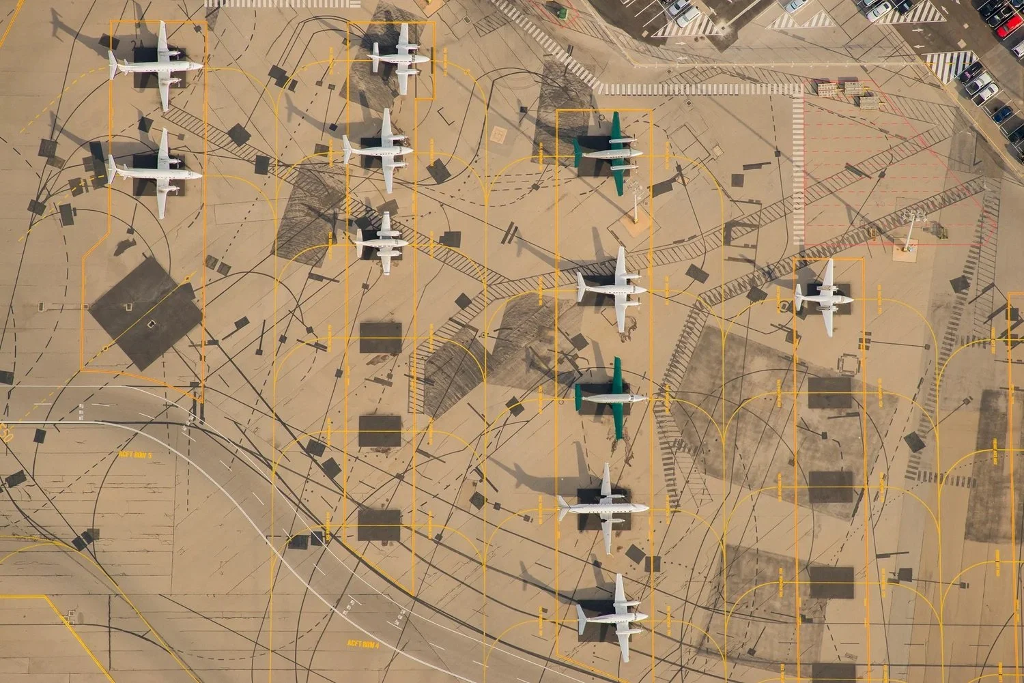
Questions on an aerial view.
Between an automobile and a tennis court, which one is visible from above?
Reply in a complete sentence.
This aerial view contains an automobile.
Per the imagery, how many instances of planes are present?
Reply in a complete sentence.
There are 11 planes in the image.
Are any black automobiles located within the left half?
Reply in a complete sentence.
No, no black automobile is visible within the left half.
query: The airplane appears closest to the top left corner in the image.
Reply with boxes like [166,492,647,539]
[106,22,203,110]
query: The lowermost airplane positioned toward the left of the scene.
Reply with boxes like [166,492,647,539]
[351,212,408,273]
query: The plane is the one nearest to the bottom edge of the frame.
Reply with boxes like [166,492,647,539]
[576,575,647,660]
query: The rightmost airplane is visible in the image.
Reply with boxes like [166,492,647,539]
[794,260,853,336]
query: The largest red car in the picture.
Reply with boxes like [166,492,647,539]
[1000,15,1023,35]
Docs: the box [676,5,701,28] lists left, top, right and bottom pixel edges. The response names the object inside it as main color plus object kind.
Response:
white vehicle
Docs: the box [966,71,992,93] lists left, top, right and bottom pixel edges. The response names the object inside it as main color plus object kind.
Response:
white vehicle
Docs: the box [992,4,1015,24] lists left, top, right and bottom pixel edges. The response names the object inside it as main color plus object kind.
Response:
black car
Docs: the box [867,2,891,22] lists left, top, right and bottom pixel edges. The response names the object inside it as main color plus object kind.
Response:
white car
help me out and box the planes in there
[106,22,203,110]
[576,249,646,331]
[576,575,647,660]
[794,260,853,336]
[366,25,430,92]
[558,464,650,553]
[573,114,643,194]
[573,356,647,440]
[104,128,202,217]
[342,110,414,191]
[351,212,408,273]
